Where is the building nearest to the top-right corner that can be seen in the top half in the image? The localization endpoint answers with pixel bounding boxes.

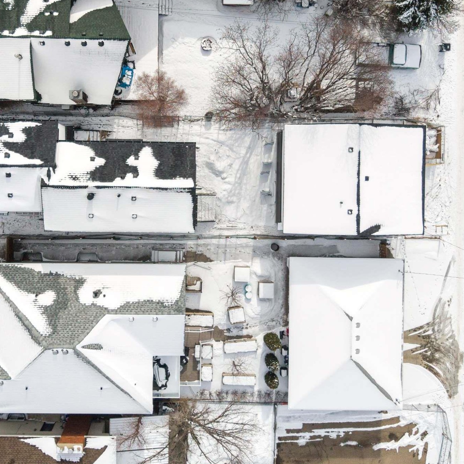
[267,122,425,235]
